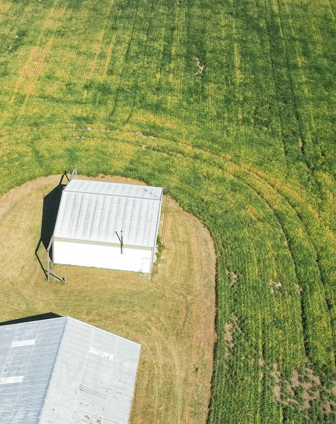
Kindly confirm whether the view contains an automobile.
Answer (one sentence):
No, this view has no automobile in it.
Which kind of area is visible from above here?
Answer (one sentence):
This image shows farmland.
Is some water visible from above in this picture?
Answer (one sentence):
No, there is no water in the image.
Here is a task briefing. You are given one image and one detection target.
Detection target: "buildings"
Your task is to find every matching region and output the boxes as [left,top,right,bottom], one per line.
[52,179,165,274]
[0,317,140,424]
